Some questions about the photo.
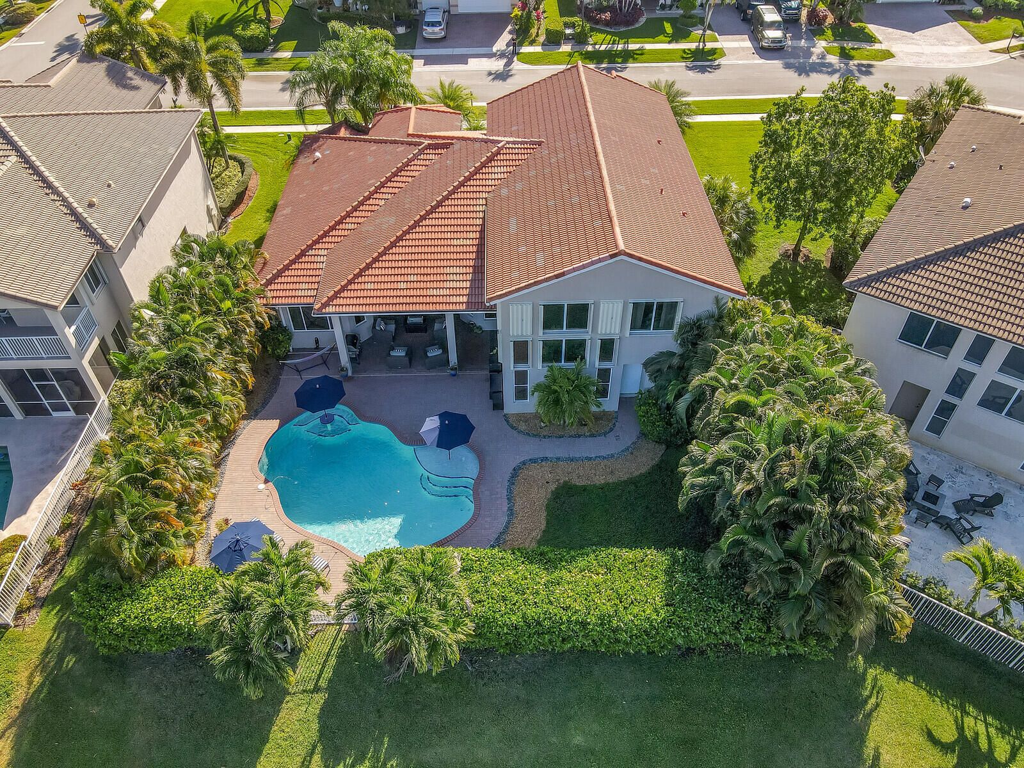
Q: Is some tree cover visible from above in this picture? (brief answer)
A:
Yes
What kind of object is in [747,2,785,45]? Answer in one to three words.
car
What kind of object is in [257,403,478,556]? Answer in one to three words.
swimming pool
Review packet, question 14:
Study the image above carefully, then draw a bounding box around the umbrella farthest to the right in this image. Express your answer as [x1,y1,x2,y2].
[418,406,473,461]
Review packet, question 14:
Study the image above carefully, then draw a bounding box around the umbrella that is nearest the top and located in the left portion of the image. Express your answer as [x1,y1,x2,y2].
[290,369,345,414]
